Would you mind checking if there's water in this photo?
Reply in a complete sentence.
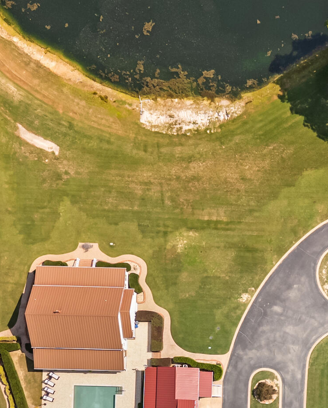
Yes, there is water in the image.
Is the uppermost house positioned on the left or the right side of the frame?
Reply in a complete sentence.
The uppermost house is on the left side of the image.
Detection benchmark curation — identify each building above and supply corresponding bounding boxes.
[143,367,214,408]
[25,266,139,371]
